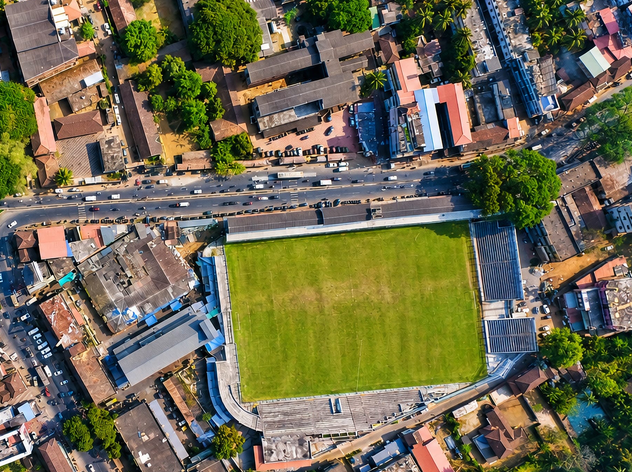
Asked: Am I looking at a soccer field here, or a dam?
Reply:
soccer field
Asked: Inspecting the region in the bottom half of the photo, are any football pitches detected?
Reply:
Yes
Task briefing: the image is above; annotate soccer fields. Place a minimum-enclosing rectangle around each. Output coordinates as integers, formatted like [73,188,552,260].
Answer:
[224,219,489,403]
